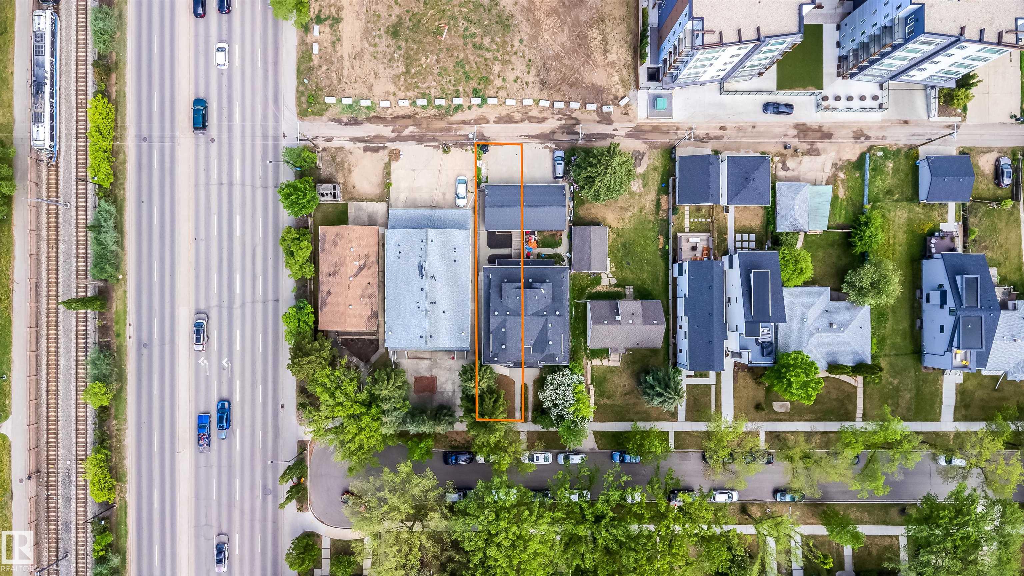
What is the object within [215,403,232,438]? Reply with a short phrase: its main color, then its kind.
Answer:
blue car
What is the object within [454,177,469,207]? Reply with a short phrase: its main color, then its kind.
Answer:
white car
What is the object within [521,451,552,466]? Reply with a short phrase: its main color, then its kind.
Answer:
white car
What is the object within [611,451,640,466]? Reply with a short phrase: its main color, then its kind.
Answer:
blue car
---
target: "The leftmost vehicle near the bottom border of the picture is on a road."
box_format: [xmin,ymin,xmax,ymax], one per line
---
[213,536,230,570]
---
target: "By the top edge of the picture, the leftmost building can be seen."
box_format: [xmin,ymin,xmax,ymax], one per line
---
[656,0,816,91]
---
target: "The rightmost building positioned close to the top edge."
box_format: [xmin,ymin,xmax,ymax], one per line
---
[840,0,1024,91]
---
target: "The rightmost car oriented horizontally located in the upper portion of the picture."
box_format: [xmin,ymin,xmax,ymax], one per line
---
[762,101,794,116]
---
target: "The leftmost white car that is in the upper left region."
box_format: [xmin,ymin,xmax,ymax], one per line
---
[215,43,230,70]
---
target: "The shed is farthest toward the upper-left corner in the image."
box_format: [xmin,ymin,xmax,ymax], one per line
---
[316,183,339,202]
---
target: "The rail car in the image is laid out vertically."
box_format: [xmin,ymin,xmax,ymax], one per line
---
[29,5,58,165]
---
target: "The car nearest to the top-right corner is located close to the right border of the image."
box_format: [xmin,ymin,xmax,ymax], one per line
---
[994,157,1013,188]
